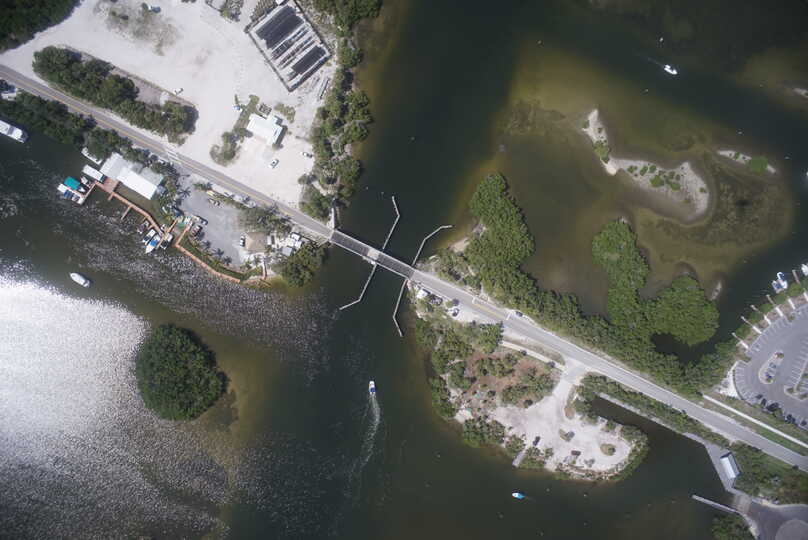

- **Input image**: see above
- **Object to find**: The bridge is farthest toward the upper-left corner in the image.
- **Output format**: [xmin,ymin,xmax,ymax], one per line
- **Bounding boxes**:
[329,227,415,282]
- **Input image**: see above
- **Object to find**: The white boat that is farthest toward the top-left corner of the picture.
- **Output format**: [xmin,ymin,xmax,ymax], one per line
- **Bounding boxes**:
[0,118,26,141]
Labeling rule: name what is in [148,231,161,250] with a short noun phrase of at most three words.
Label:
boat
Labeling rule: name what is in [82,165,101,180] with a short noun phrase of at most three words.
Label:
boat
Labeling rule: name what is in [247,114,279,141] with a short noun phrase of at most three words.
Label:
house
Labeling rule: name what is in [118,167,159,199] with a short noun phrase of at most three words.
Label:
building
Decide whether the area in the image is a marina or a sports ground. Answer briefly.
marina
